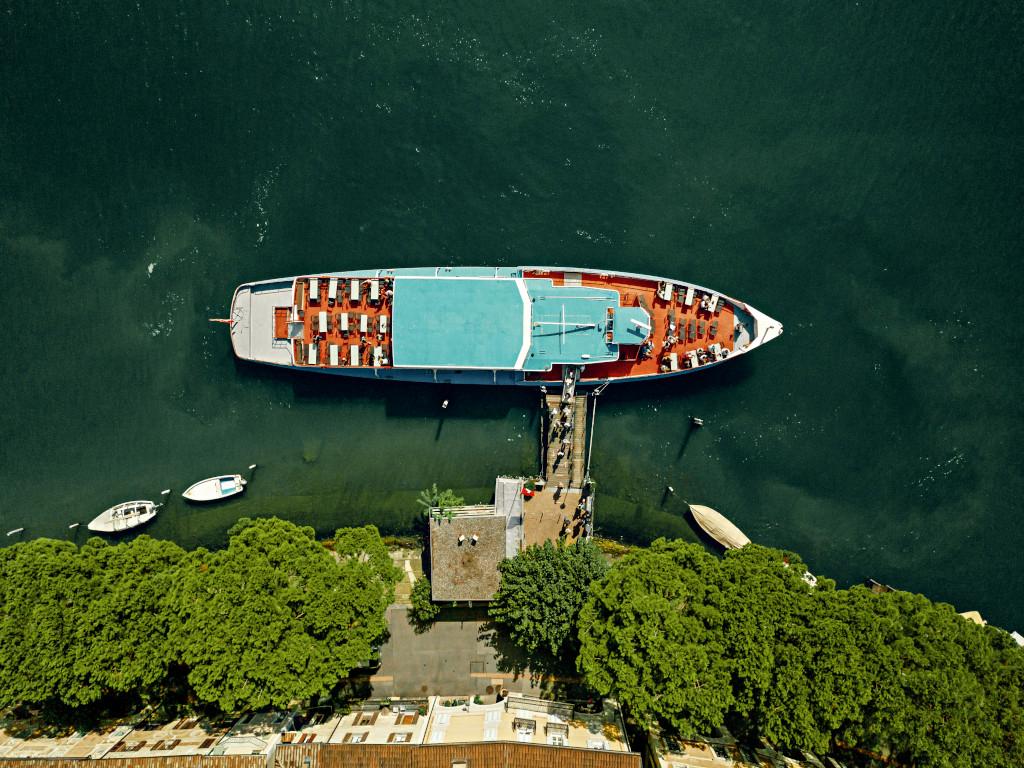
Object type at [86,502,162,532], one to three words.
boat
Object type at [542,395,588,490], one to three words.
pier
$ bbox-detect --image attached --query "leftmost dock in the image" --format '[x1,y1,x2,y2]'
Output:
[496,476,522,563]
